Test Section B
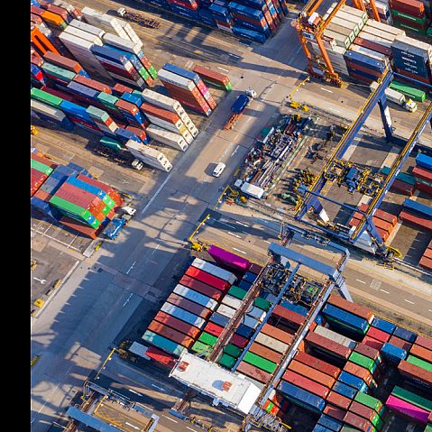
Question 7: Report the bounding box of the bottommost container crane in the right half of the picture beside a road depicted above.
[166,224,357,432]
